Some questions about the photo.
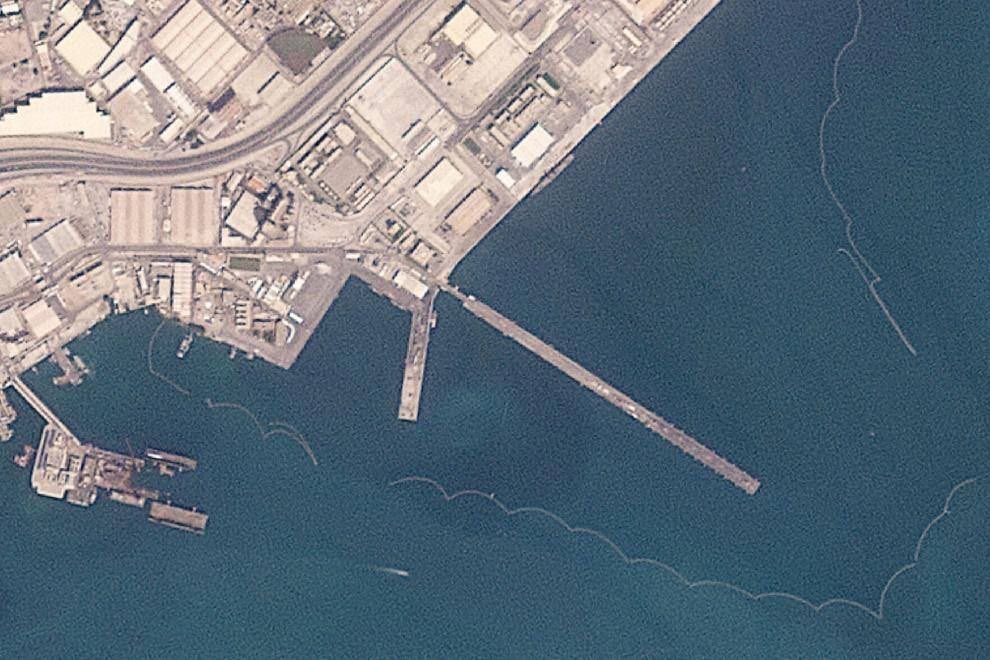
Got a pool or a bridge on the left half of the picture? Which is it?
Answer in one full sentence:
It is a bridge that can be seen on the left half of the picture.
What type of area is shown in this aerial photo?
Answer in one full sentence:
It's a port.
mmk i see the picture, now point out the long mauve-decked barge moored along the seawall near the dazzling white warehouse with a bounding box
[533,156,574,196]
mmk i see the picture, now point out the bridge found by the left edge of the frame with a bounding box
[9,375,79,445]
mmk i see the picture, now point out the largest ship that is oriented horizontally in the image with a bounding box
[109,492,145,506]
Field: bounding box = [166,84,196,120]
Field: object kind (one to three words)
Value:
building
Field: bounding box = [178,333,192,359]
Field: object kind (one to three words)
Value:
ship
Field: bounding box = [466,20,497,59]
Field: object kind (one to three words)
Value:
building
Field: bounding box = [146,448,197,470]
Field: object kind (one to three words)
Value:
pier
